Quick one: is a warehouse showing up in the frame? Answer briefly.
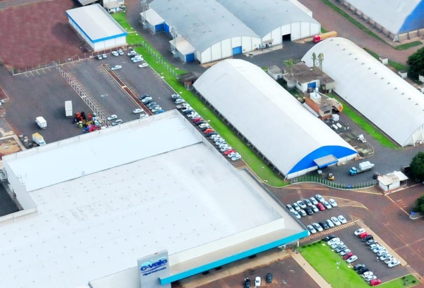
Yes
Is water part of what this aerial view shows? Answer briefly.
No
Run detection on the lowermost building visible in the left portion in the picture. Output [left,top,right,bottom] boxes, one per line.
[0,104,308,288]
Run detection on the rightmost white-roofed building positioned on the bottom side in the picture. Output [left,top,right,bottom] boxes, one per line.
[375,169,406,193]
